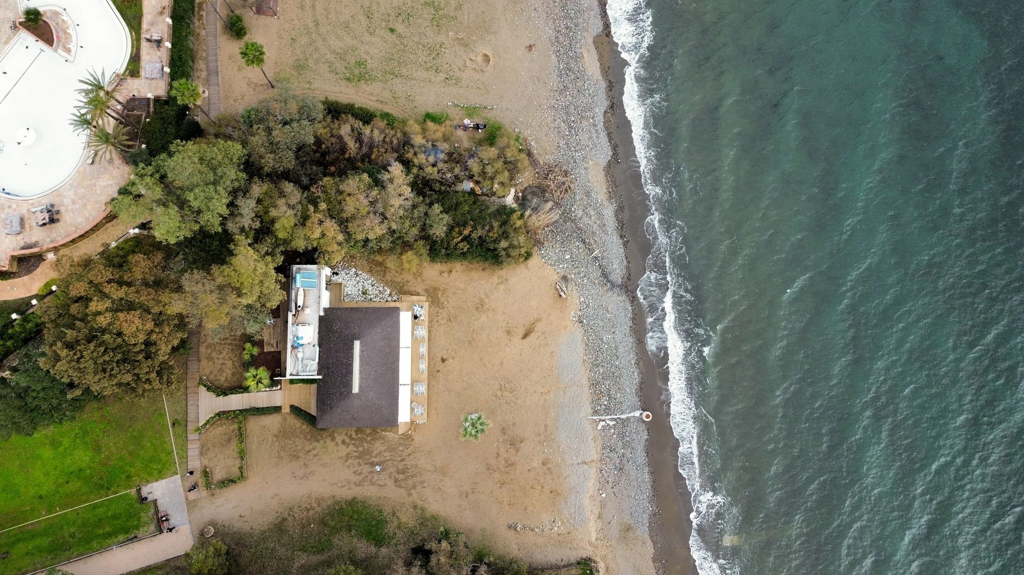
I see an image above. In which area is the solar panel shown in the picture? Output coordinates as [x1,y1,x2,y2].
[301,271,317,289]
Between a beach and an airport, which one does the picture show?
beach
